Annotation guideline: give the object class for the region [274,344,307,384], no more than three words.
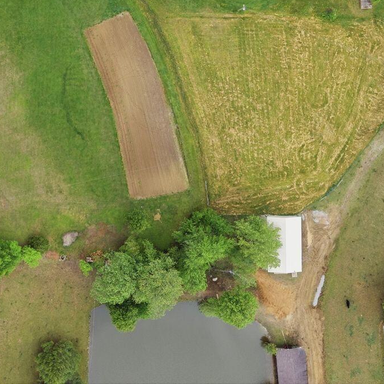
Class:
shed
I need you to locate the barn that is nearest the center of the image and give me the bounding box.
[265,214,302,275]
